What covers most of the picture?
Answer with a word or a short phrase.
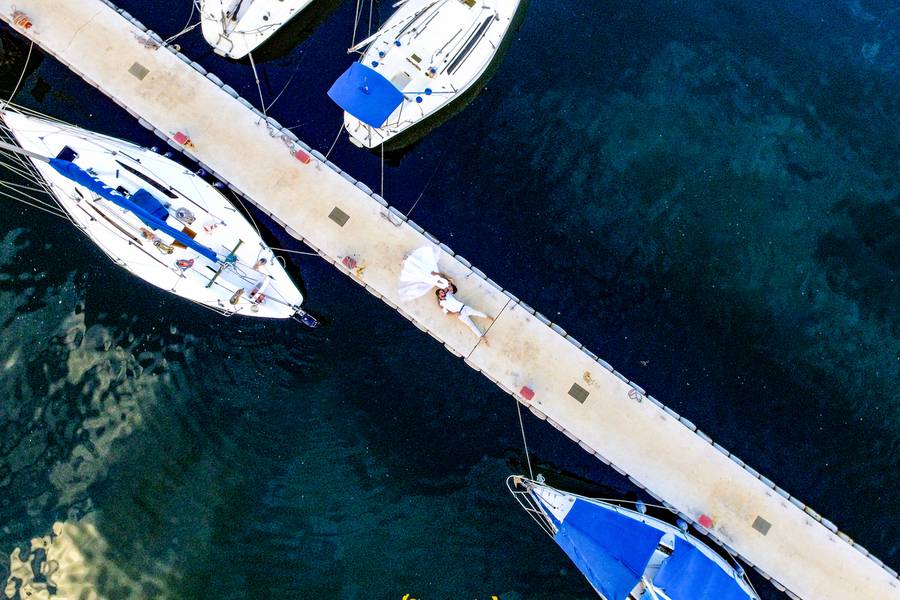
water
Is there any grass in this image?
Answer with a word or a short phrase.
No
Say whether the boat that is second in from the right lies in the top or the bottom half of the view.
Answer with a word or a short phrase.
top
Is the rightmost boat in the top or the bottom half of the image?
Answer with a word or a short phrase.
bottom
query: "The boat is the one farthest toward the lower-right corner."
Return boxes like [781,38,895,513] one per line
[507,473,765,600]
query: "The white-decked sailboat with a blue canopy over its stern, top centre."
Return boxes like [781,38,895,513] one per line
[330,0,525,149]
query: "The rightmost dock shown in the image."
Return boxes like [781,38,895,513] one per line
[468,298,900,600]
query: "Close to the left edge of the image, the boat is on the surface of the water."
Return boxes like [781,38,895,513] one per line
[0,107,317,327]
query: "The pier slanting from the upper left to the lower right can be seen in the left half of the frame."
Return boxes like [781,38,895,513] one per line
[0,0,512,359]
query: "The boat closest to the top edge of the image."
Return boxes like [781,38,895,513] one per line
[200,0,315,60]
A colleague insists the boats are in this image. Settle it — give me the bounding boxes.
[200,0,315,60]
[0,107,317,327]
[507,473,765,600]
[330,0,525,149]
